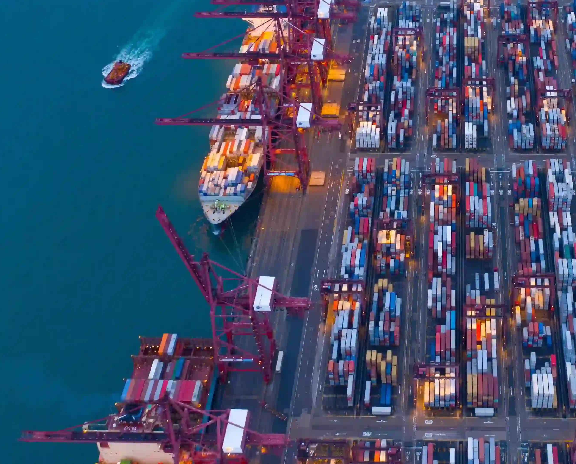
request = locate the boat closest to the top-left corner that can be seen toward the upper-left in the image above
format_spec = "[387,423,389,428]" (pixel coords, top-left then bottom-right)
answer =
[104,58,133,84]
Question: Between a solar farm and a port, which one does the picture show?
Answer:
port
